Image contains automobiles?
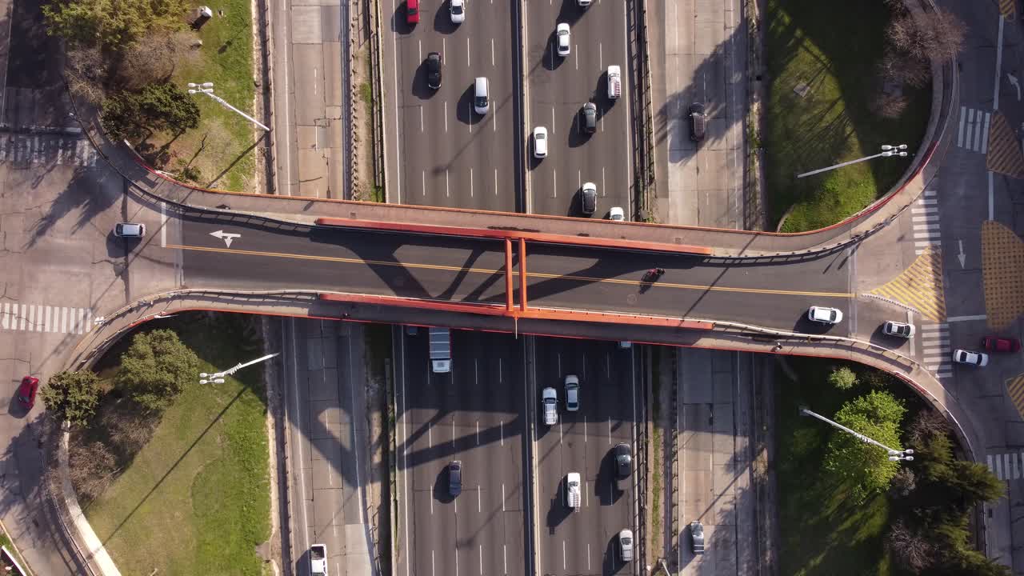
Yes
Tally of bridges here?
1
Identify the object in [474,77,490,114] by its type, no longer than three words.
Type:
vehicle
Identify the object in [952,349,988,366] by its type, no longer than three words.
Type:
car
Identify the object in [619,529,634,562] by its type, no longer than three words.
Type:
vehicle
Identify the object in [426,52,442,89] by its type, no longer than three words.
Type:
car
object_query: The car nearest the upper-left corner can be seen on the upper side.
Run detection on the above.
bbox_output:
[113,222,147,238]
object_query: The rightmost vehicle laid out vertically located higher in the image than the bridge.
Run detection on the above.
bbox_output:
[689,103,706,140]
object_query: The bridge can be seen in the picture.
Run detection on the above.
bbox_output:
[165,184,856,361]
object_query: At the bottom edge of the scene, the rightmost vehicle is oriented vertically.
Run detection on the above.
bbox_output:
[689,521,706,555]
